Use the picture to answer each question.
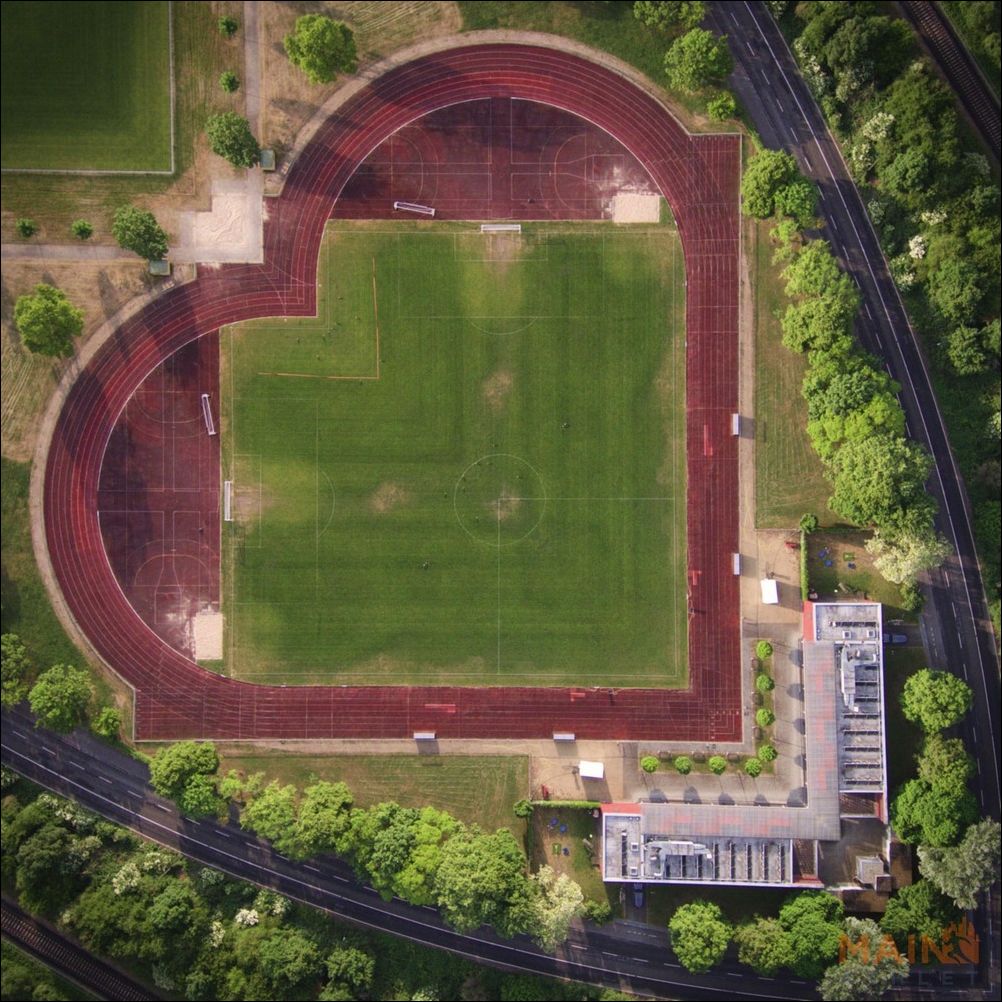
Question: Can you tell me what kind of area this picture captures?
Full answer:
The area seen from above is a sports ground.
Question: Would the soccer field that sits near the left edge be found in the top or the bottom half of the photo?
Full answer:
The soccer field that sits near the left edge sits in the top half of the picture.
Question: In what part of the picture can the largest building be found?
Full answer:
You can find the largest building in the bottom right area of the picture.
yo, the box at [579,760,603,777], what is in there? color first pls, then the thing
white gazebo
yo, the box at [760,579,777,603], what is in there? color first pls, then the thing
white gazebo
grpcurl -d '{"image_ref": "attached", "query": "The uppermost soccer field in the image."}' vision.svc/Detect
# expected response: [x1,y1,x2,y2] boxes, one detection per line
[0,0,173,172]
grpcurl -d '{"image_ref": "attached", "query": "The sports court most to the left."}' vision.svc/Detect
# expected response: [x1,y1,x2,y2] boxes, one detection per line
[98,330,219,664]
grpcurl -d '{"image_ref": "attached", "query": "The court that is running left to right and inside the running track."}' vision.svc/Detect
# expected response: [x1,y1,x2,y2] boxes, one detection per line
[330,98,664,219]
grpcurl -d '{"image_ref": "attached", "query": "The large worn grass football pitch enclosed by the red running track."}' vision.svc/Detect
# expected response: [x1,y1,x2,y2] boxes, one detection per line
[218,218,690,690]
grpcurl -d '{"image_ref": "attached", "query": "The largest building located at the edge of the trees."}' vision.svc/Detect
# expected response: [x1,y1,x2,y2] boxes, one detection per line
[602,602,891,891]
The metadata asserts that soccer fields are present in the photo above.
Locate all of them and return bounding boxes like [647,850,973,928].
[0,0,173,172]
[218,218,690,690]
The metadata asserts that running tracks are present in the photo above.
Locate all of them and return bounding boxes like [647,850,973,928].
[43,43,742,742]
